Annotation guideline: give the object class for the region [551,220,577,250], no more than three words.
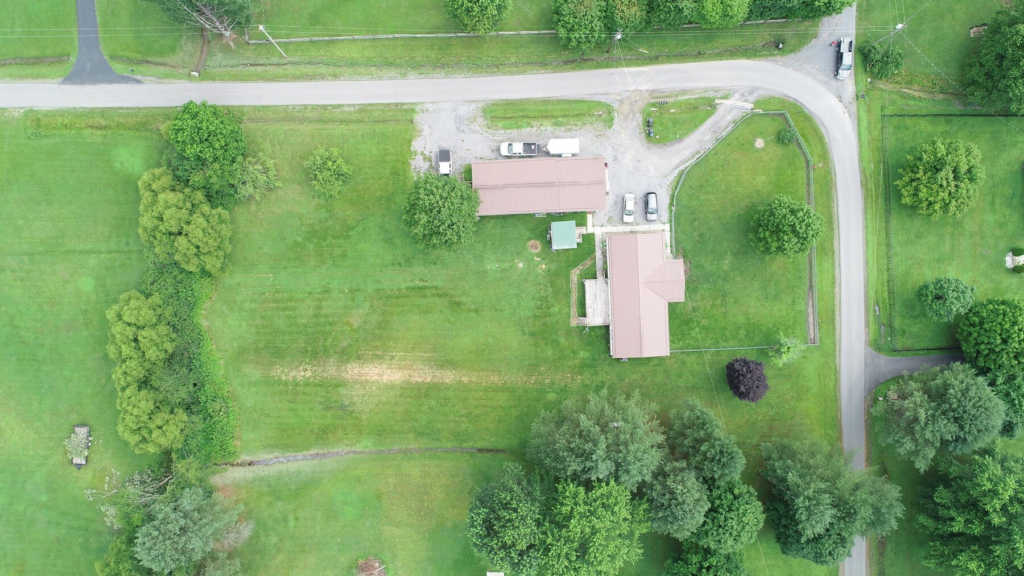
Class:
shed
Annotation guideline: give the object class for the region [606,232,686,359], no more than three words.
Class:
house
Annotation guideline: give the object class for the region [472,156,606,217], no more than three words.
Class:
building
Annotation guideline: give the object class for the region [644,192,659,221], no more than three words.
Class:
car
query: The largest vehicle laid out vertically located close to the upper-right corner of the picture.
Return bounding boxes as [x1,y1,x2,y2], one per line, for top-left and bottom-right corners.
[834,39,852,80]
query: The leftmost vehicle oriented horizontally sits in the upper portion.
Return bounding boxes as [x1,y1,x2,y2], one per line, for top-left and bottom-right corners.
[499,142,539,157]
